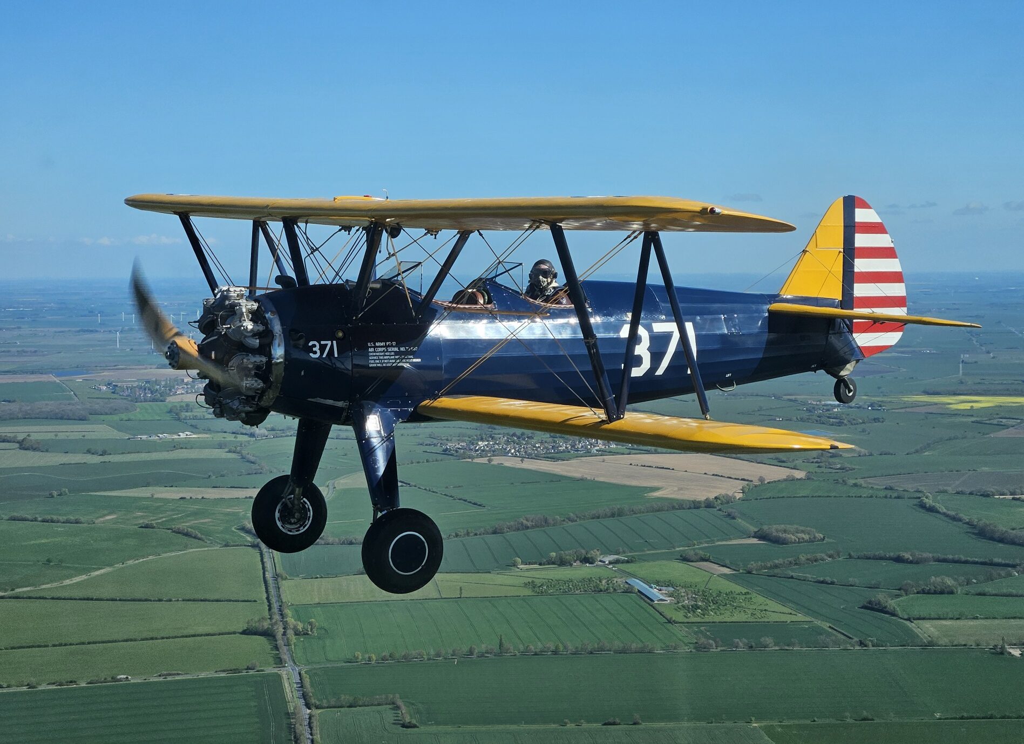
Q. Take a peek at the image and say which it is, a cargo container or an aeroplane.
aeroplane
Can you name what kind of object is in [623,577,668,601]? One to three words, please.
barn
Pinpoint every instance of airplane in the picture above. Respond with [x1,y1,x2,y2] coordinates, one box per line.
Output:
[124,186,996,593]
